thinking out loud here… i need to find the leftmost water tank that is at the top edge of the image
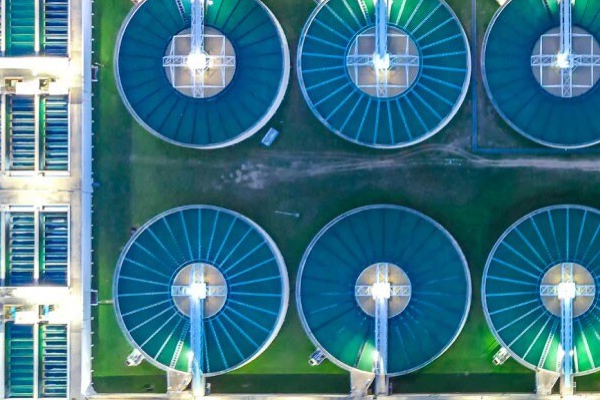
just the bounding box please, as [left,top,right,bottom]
[112,0,288,148]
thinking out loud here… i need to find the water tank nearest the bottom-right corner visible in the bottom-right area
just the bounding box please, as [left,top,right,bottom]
[480,204,600,400]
